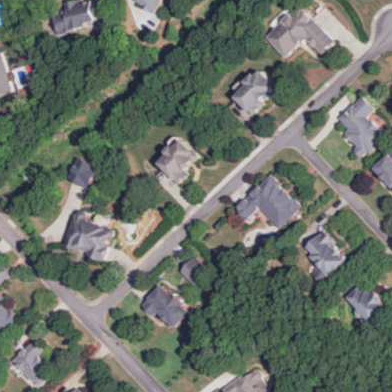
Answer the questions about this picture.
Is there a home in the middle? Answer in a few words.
Yes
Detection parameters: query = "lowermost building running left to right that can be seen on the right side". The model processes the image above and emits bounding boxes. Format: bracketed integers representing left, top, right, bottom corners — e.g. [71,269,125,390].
[219,370,270,392]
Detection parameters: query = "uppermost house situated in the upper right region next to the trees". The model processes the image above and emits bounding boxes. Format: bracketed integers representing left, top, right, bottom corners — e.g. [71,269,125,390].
[265,8,336,56]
